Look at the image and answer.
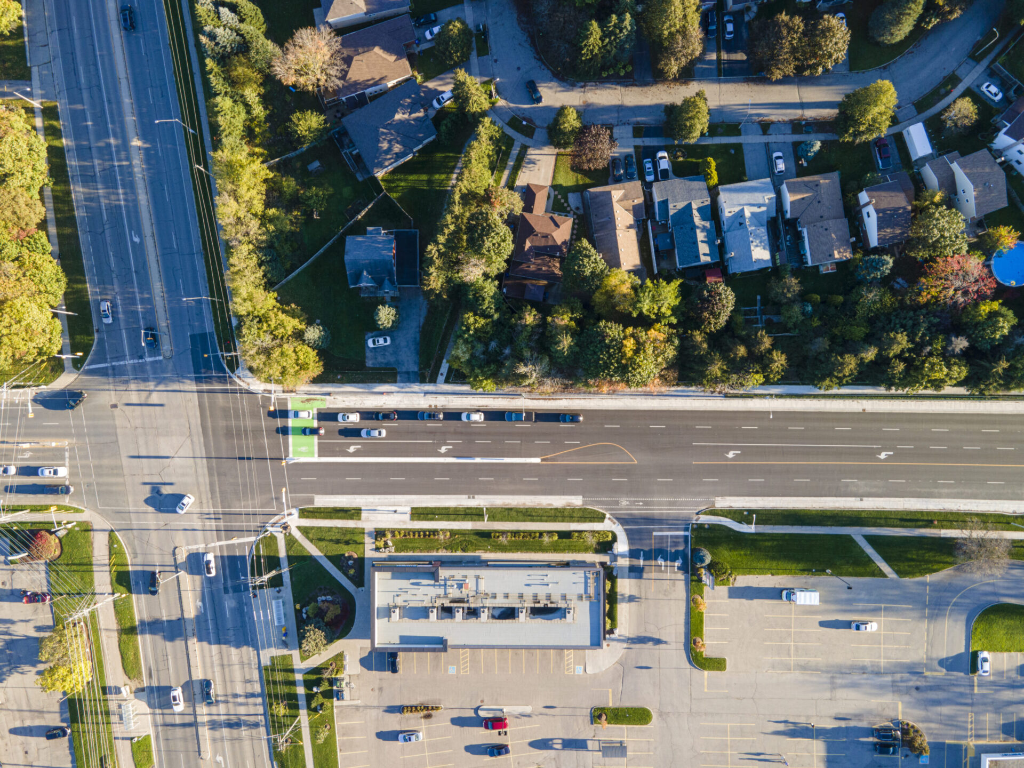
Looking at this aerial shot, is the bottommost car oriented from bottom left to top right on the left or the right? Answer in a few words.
left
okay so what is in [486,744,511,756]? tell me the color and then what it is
blue vehicle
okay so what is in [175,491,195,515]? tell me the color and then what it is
white car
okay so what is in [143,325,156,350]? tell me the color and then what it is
blue vehicle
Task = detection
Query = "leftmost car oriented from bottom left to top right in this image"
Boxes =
[66,389,90,411]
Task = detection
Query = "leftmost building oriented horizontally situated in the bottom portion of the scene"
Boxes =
[371,555,606,652]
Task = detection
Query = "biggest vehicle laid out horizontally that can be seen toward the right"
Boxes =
[781,589,820,605]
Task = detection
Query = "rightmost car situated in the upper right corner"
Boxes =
[979,80,1003,102]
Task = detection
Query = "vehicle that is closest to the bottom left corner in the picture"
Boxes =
[45,726,71,739]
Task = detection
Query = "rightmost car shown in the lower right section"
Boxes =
[977,650,991,675]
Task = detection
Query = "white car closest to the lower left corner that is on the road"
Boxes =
[171,686,184,711]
